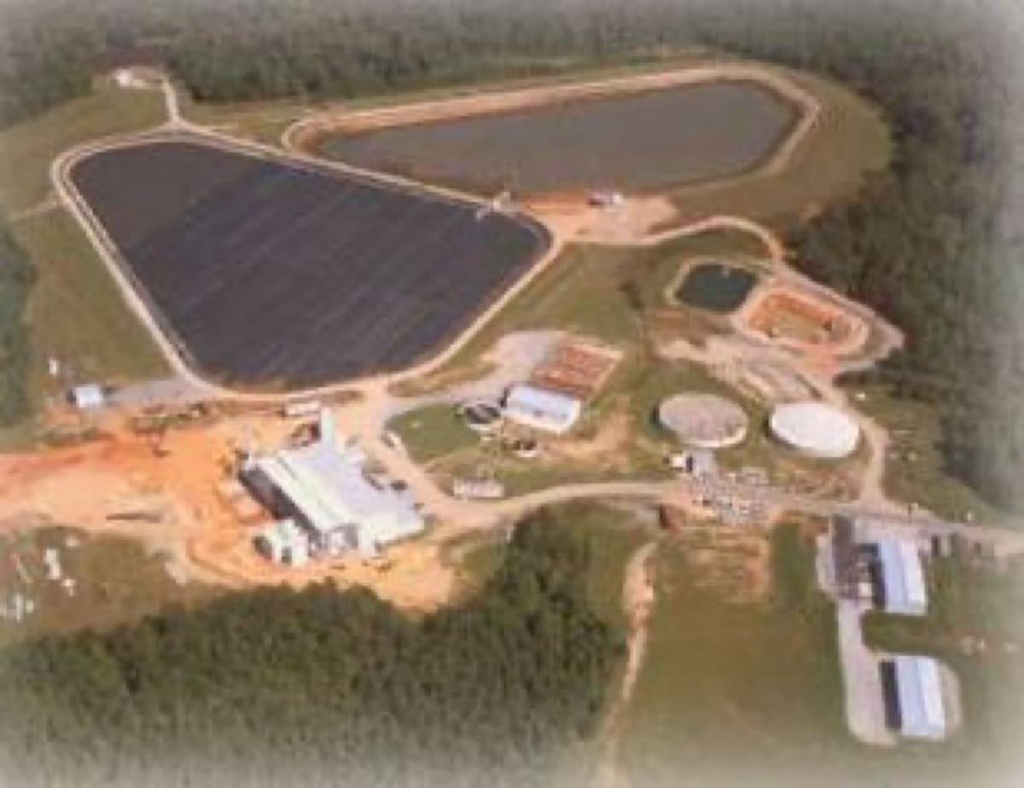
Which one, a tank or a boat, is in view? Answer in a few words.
tank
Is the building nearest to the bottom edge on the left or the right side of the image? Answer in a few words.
right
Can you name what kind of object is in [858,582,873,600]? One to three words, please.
vehicle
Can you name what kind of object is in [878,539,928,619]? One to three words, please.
building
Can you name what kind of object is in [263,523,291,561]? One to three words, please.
shed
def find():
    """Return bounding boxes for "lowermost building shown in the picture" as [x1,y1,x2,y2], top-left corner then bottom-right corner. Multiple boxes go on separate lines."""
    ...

[895,653,945,744]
